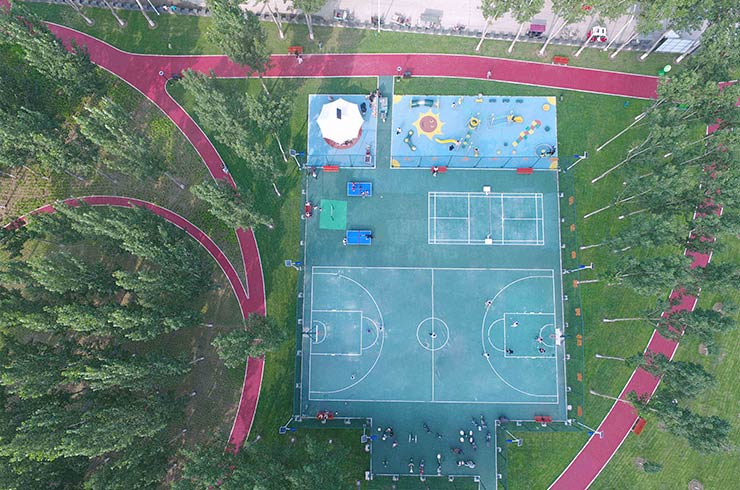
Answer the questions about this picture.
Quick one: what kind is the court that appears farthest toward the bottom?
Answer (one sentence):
Specifically, the court that appears farthest toward the bottom is a basketball court.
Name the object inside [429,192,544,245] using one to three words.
sports court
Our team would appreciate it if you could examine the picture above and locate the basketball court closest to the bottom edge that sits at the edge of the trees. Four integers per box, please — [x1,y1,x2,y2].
[309,267,558,403]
